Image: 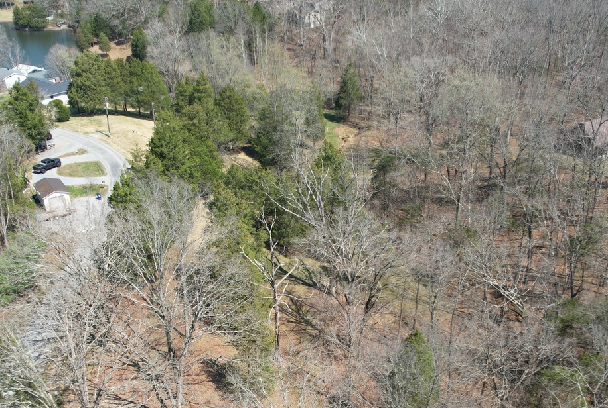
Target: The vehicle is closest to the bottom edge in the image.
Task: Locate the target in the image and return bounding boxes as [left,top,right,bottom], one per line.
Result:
[26,153,66,172]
